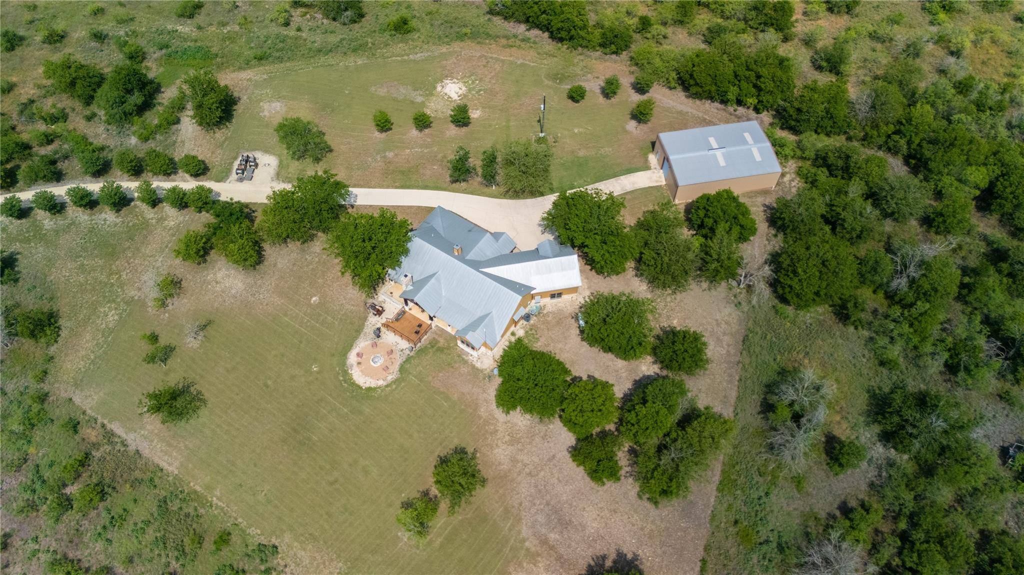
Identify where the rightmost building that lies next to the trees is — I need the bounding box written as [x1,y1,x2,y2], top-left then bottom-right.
[653,120,784,202]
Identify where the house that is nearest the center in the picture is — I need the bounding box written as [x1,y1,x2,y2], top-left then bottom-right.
[385,205,582,357]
